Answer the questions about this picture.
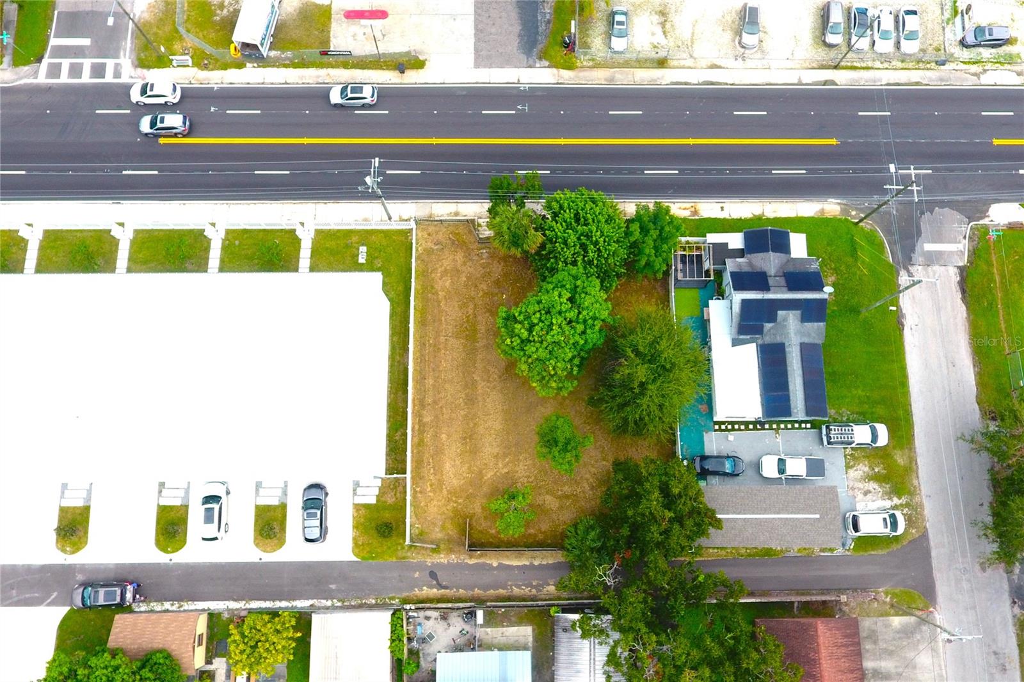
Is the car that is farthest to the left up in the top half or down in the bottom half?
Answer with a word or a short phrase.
bottom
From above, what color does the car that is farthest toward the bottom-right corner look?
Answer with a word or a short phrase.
white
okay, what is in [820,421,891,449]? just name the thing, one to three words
truck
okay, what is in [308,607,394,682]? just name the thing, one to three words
shed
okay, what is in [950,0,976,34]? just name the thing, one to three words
trailer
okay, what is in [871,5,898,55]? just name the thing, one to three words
car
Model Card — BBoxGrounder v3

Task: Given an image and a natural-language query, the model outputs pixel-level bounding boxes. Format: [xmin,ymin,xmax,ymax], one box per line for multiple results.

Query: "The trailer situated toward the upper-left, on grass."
[227,0,274,65]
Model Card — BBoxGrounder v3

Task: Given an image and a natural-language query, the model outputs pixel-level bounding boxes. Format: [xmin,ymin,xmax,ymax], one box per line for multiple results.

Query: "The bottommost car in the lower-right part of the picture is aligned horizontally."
[845,510,907,539]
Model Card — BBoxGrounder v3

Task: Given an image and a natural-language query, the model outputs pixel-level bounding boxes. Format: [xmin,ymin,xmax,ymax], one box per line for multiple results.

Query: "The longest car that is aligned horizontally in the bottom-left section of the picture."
[70,581,133,612]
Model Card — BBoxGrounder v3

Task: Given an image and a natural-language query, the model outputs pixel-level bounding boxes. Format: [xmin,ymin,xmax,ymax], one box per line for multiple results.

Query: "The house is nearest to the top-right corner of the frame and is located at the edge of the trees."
[699,228,831,421]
